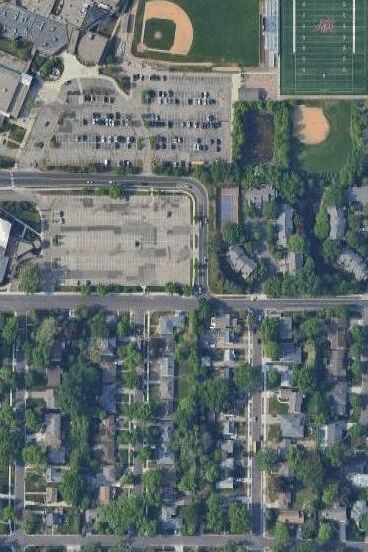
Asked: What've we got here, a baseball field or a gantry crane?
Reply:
baseball field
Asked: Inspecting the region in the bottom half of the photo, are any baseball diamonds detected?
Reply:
No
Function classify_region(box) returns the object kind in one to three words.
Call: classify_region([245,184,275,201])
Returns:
house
